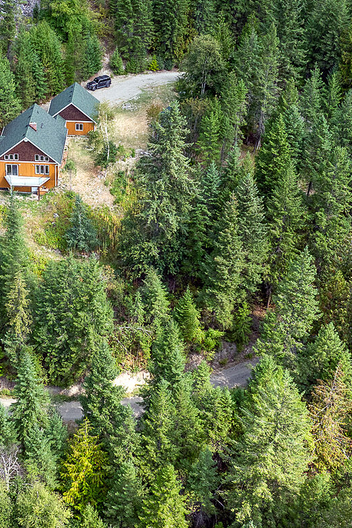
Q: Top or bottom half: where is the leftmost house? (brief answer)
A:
top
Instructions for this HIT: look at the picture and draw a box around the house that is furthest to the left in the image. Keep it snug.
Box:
[0,104,69,202]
